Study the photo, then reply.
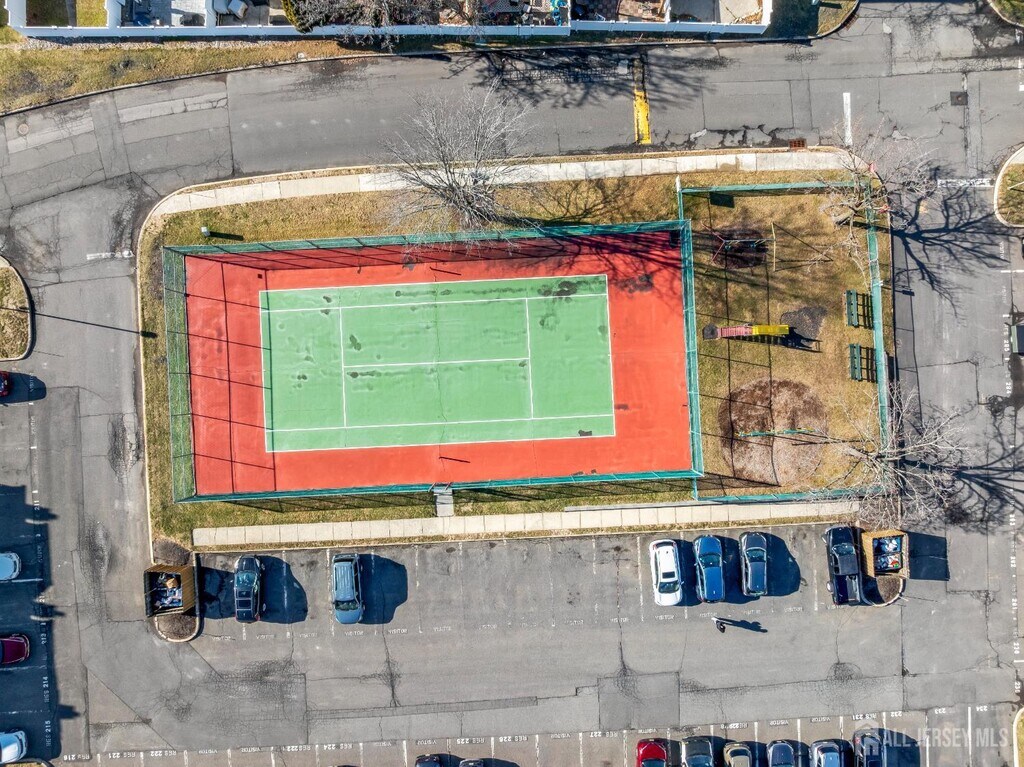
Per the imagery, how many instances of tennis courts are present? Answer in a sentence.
I count 1 tennis court.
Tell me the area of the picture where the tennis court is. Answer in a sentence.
The tennis court sits in the center section of the image.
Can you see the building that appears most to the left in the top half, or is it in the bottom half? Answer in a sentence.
Seen from above, the building that appears most to the left lies in the bottom half of the view.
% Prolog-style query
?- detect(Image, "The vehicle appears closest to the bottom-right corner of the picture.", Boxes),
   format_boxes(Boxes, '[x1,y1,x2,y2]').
[850,729,889,767]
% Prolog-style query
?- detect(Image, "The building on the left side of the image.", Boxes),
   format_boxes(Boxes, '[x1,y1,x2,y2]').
[145,566,194,617]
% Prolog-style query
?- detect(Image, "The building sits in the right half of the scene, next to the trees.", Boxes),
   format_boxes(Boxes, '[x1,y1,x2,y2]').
[864,531,913,577]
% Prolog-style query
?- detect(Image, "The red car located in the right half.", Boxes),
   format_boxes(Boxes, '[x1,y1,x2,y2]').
[638,736,670,767]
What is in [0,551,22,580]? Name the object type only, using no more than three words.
car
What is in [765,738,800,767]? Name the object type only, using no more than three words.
car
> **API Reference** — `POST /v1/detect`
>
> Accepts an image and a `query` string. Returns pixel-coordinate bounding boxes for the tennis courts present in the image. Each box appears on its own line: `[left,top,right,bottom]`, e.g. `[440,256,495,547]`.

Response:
[184,229,692,495]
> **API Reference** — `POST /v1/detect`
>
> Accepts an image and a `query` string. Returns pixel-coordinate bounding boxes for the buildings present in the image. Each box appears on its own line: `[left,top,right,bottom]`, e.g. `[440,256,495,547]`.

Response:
[864,531,913,577]
[145,566,194,617]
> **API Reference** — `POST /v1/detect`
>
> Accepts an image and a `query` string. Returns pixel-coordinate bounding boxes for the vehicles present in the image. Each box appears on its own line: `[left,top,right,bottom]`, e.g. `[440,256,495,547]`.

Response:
[824,525,865,606]
[459,757,486,767]
[681,735,716,767]
[416,752,443,767]
[649,539,684,605]
[0,370,12,396]
[808,738,842,767]
[692,535,726,604]
[229,553,265,624]
[0,633,32,668]
[329,552,364,624]
[1010,326,1024,354]
[0,729,29,767]
[638,736,670,767]
[765,738,800,767]
[737,532,771,598]
[0,551,22,580]
[723,741,753,767]
[850,729,889,767]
